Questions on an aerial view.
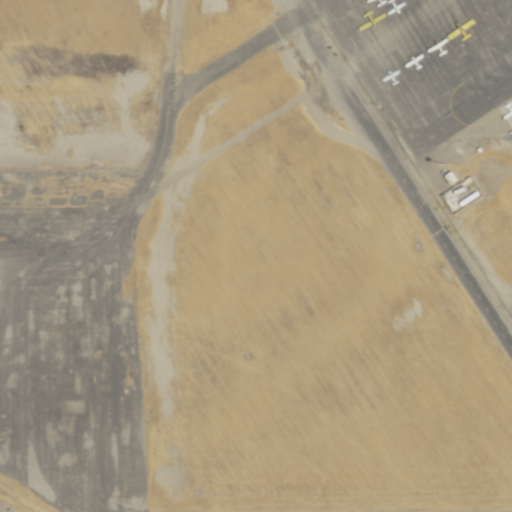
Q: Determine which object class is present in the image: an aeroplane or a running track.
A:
aeroplane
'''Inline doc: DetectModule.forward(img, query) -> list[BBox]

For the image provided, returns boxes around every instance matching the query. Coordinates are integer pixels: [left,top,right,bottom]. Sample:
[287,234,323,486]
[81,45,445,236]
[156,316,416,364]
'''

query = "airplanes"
[388,0,407,16]
[404,54,424,70]
[382,70,402,86]
[447,19,476,41]
[428,38,449,57]
[359,10,387,30]
[502,102,512,118]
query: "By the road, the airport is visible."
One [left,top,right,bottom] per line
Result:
[170,0,512,360]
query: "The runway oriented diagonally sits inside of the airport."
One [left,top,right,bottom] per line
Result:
[333,72,512,360]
